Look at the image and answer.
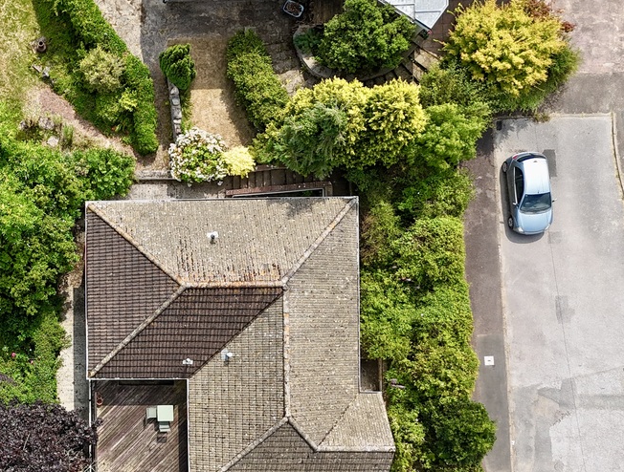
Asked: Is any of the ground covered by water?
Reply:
No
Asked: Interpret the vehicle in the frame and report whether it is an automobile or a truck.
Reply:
automobile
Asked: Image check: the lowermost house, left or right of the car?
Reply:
left of it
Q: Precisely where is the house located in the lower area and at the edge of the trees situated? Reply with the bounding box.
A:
[84,195,396,472]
